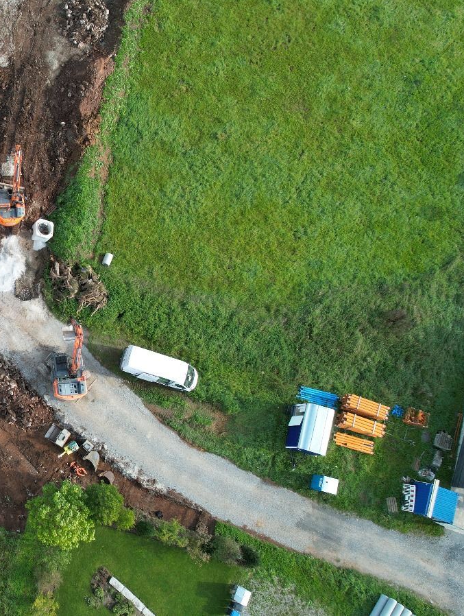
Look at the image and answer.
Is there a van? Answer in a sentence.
Yes, the image includes a van.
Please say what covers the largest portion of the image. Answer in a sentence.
The bulk of the photo consists of grass.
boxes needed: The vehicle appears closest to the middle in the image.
[119,344,199,389]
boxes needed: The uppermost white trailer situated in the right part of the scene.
[287,402,332,468]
